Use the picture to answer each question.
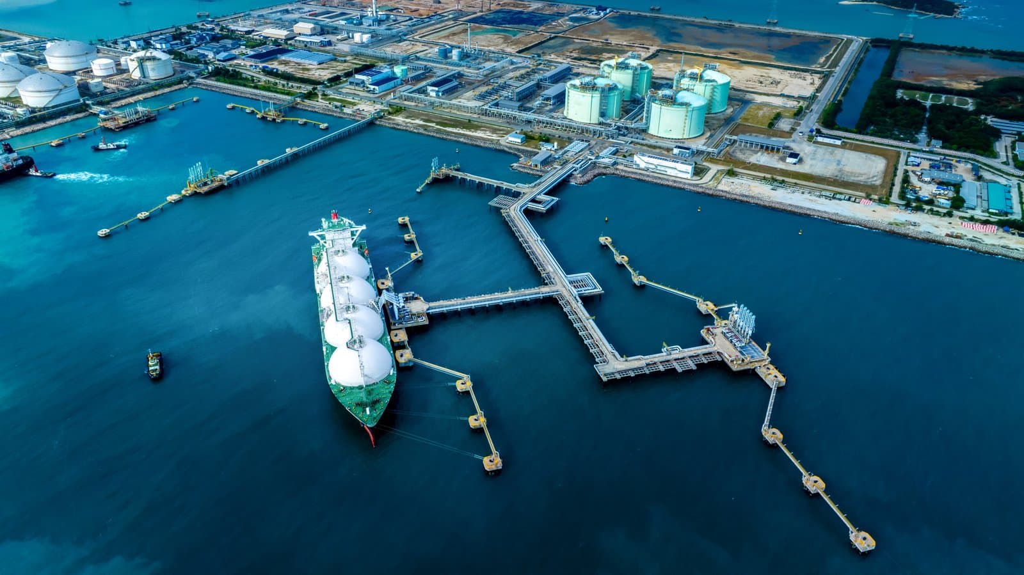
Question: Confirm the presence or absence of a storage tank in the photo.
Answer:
Yes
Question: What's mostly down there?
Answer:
water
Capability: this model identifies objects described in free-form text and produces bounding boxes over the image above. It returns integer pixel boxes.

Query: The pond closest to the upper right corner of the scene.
[895,51,1024,73]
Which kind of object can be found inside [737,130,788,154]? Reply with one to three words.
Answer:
shed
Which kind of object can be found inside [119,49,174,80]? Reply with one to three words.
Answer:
storage tank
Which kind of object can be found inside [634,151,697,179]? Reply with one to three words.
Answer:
building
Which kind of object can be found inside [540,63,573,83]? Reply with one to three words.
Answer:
building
